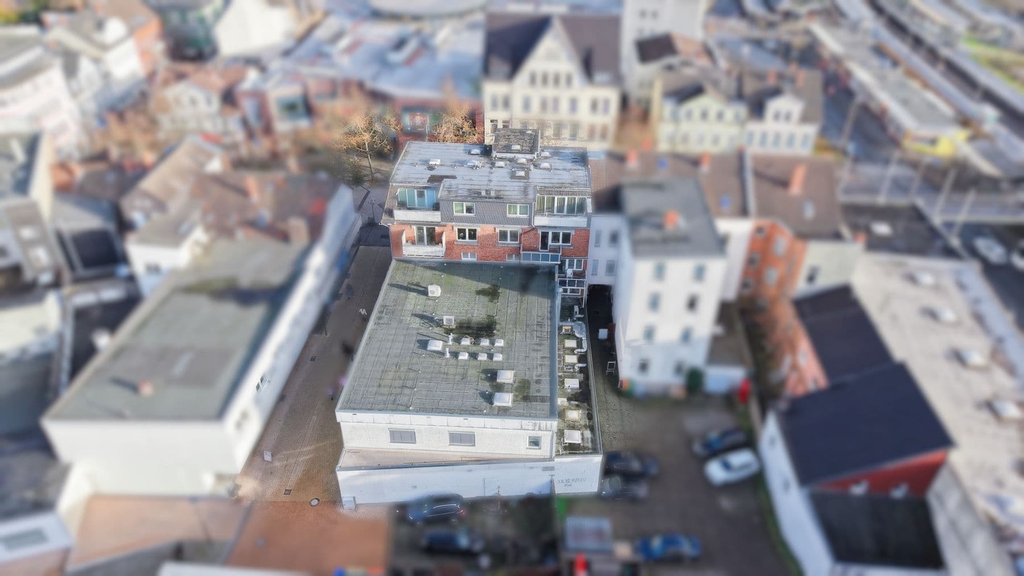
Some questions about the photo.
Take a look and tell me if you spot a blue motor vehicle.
Yes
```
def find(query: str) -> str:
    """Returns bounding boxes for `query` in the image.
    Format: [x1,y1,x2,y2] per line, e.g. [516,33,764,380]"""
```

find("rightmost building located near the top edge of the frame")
[810,23,963,176]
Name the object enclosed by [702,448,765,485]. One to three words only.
car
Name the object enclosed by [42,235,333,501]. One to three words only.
building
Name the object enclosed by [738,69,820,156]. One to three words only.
house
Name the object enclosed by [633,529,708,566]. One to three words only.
car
